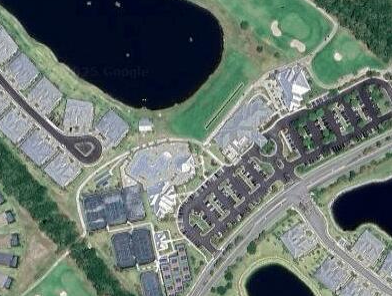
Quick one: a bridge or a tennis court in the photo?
tennis court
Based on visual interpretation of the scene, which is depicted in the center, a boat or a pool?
pool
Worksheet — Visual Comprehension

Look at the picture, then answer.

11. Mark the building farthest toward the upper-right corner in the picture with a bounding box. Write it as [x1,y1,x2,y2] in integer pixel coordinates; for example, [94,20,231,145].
[277,66,310,110]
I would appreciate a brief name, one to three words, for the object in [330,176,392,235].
pond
